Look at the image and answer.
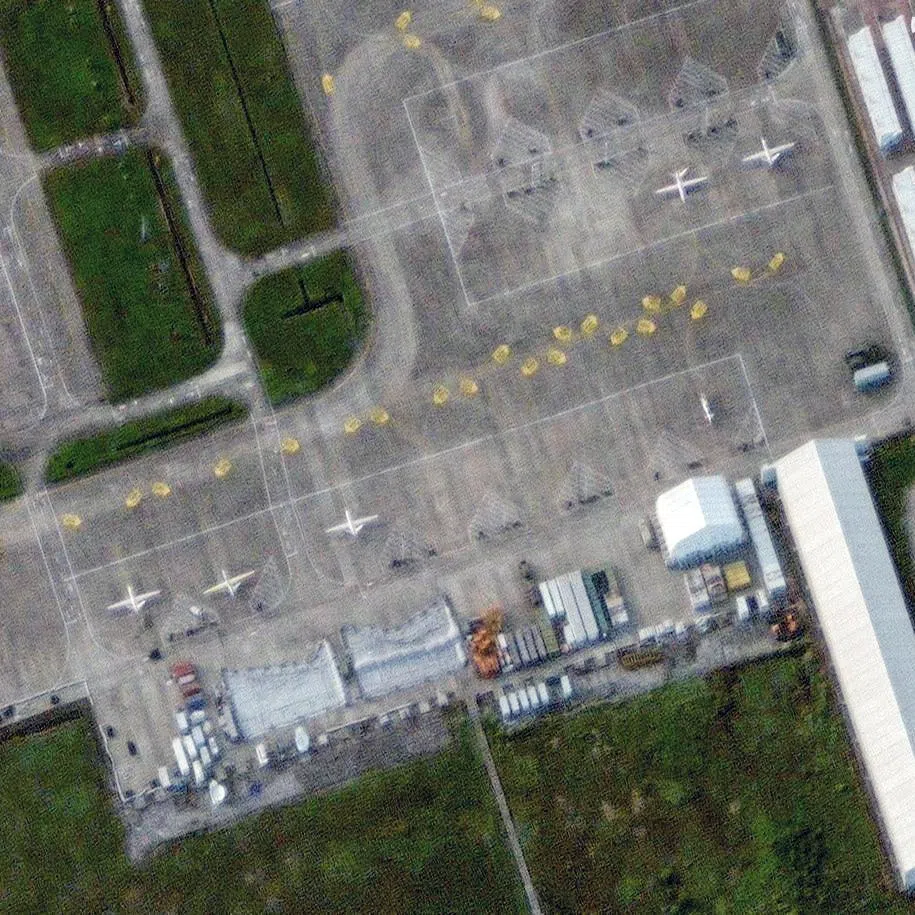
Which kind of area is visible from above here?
airport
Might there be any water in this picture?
No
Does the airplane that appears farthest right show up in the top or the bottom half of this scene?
top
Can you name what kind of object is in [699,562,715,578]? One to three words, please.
vehicle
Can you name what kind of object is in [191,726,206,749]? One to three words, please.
vehicle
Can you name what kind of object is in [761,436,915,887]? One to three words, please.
hangar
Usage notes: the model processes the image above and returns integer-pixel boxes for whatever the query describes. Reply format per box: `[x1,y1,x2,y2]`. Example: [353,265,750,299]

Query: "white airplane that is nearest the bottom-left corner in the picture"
[109,587,159,614]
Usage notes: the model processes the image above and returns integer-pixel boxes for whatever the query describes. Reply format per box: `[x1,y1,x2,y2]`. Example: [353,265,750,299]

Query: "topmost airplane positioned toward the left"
[326,511,377,538]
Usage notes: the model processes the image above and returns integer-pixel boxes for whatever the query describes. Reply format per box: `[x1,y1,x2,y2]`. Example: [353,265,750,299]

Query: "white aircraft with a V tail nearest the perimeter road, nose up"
[743,138,793,168]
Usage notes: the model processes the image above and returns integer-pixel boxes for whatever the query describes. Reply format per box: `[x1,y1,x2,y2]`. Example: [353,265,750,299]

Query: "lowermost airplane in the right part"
[701,395,716,424]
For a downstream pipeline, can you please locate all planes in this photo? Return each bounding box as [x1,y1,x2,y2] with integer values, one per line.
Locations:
[109,587,159,614]
[204,571,253,598]
[655,167,706,201]
[326,511,377,538]
[701,395,716,424]
[743,138,793,168]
